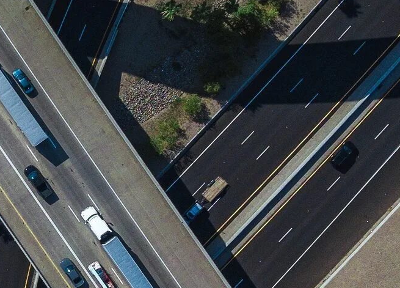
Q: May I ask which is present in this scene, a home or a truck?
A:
truck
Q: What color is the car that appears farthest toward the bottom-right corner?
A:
black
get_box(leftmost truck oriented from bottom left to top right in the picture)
[182,197,210,226]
